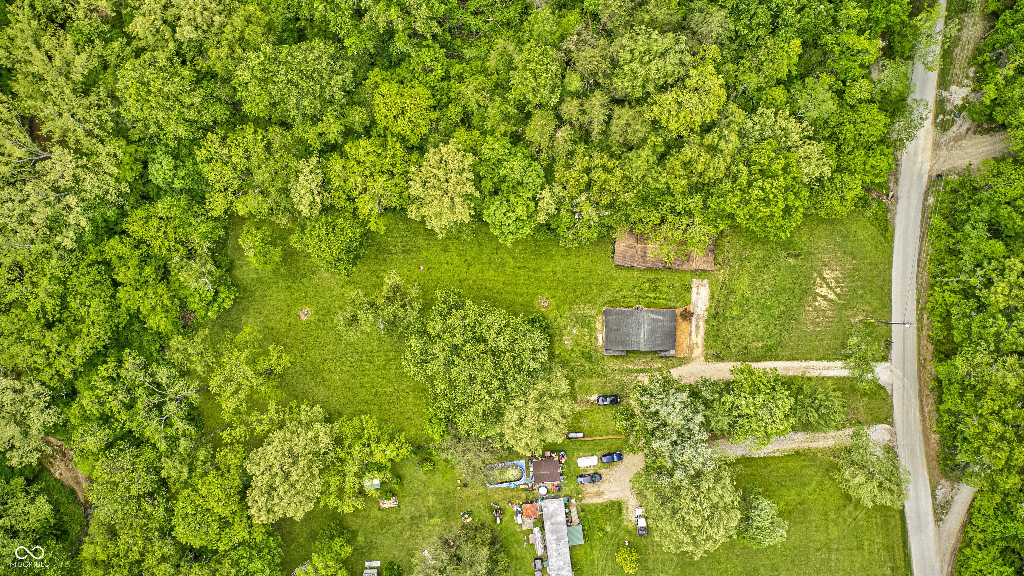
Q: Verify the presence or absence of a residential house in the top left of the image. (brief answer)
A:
No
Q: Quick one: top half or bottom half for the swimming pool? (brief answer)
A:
bottom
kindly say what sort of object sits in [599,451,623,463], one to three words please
vehicle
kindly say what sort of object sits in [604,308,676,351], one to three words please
house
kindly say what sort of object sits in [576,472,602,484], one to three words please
vehicle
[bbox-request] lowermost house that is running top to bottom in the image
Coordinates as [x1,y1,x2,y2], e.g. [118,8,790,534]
[542,495,572,576]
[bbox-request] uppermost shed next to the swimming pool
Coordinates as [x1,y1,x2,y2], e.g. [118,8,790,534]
[533,458,561,484]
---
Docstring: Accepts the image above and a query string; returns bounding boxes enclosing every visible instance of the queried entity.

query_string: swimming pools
[484,466,526,486]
